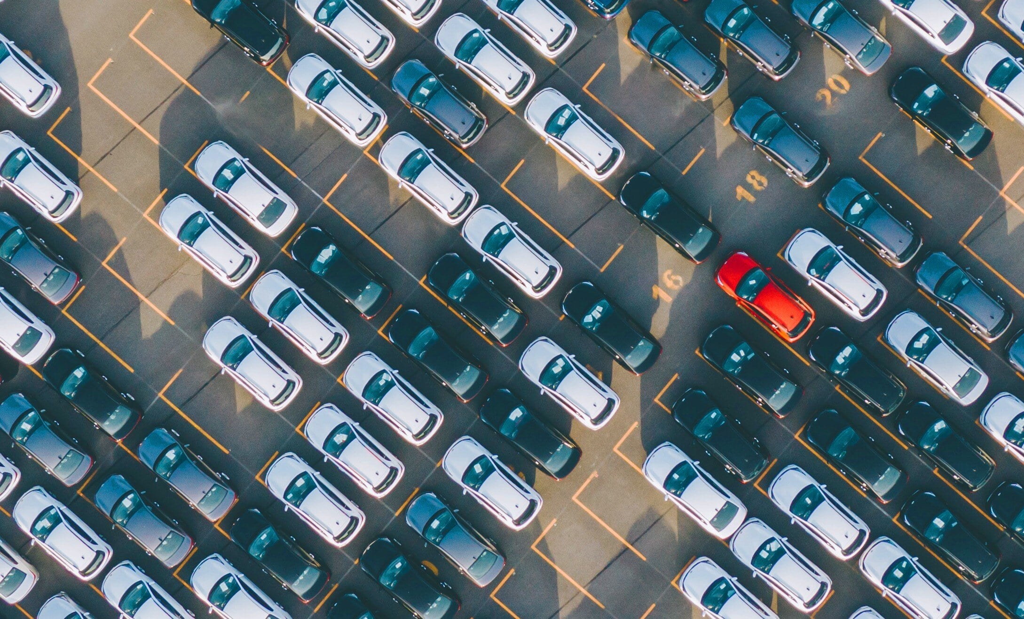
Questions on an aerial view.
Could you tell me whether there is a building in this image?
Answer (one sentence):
No, I can't see a single building in this photo.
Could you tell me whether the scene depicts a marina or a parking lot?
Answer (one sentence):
This looks like a parking lot.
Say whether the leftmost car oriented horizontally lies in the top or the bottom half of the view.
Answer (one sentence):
The leftmost car oriented horizontally is in the bottom half of the image.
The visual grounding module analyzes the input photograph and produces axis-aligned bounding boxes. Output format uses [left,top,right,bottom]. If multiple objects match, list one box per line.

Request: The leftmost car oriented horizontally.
[39,592,100,619]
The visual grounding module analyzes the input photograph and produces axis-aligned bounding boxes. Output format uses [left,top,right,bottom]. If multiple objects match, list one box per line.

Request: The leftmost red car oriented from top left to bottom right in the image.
[714,251,816,344]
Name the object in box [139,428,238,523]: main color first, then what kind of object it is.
blue car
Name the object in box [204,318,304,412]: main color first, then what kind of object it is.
white car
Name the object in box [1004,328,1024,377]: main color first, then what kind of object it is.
blue car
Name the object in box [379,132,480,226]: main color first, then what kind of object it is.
white car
